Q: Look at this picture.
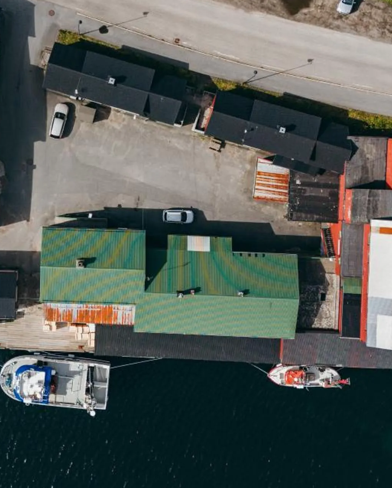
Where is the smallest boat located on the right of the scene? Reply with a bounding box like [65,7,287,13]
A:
[270,365,352,394]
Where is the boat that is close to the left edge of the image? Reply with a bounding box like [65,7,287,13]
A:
[0,360,110,418]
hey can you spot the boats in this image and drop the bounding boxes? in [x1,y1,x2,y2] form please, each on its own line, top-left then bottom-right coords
[0,360,110,418]
[270,365,352,394]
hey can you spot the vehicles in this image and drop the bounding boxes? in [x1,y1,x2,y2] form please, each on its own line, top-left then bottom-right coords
[48,102,68,139]
[338,0,360,15]
[161,209,195,225]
